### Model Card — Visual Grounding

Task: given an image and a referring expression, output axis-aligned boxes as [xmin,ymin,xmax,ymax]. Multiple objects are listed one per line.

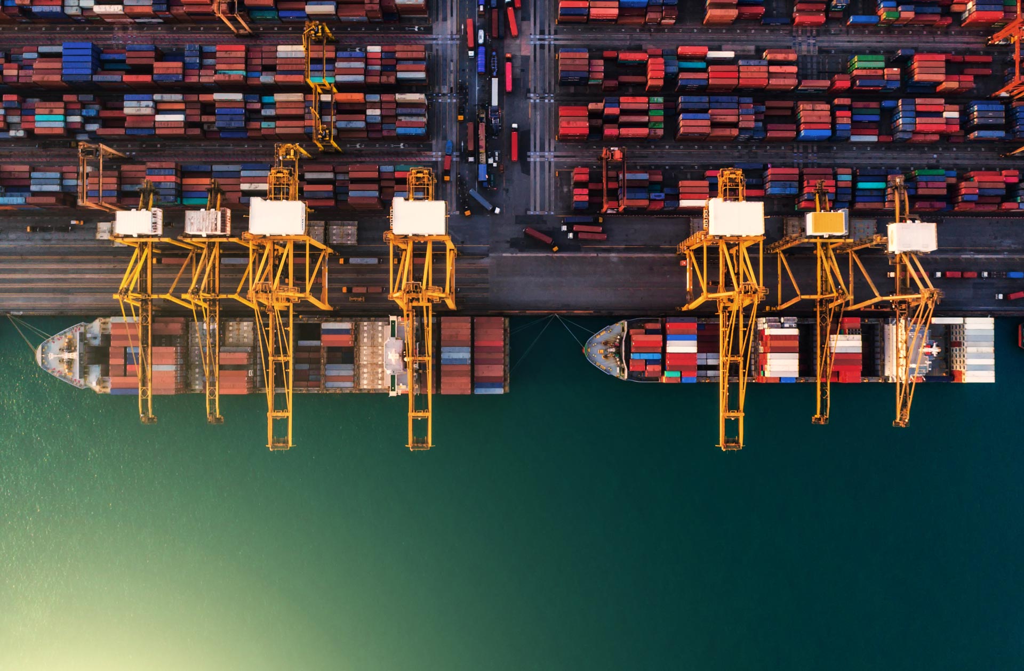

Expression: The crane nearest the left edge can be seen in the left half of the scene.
[79,143,129,212]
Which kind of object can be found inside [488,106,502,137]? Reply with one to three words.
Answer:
work vehicle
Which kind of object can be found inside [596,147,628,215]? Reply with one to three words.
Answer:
container crane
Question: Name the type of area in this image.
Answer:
port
